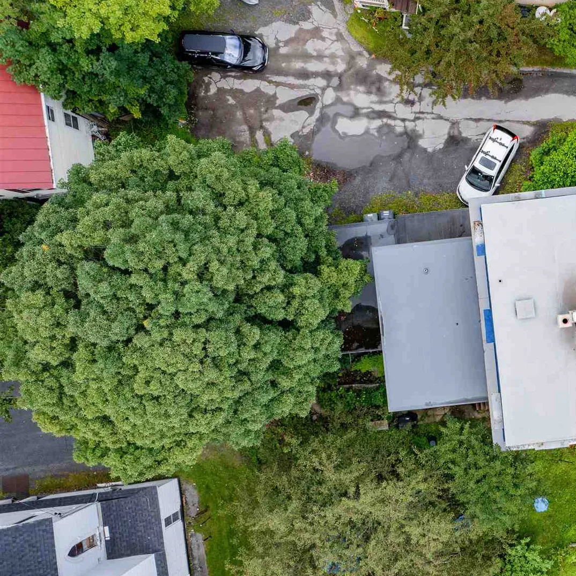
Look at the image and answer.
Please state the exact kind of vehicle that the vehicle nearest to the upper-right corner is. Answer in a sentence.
I'd identify the vehicle nearest to the upper-right corner as a car.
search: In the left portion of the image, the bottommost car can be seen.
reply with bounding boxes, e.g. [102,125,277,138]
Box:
[173,26,267,74]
